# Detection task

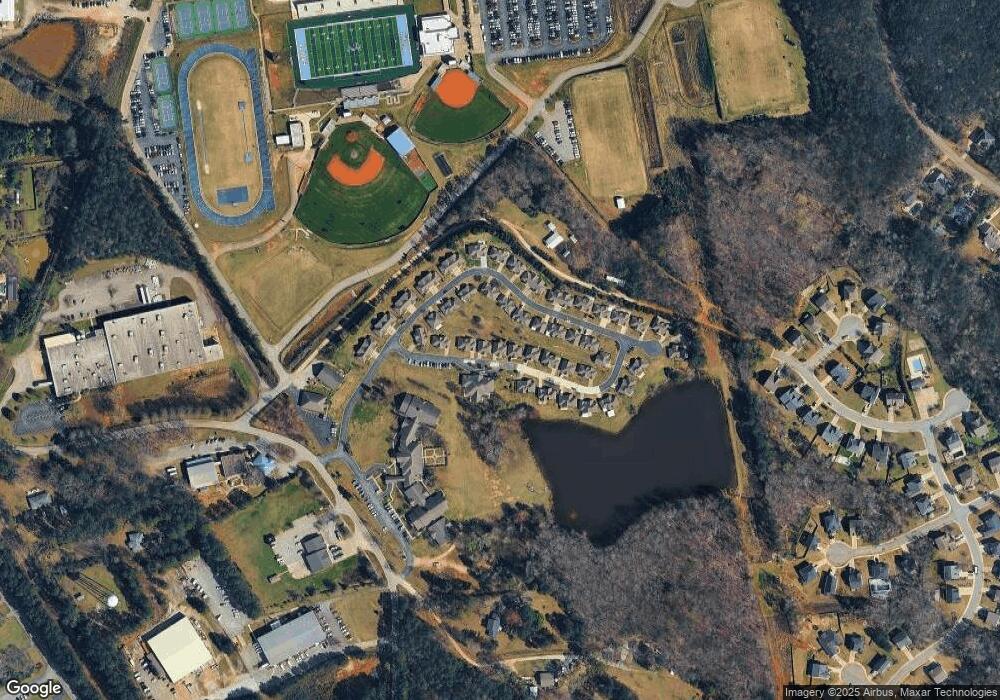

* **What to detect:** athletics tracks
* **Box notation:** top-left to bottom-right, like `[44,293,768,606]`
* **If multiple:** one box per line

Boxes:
[179,44,276,226]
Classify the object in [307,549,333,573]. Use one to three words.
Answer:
building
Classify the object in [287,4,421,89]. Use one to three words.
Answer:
sports field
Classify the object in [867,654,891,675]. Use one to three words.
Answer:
house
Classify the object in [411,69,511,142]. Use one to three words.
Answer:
baseball field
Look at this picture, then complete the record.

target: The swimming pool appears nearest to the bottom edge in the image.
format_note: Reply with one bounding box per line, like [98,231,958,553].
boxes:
[869,578,891,596]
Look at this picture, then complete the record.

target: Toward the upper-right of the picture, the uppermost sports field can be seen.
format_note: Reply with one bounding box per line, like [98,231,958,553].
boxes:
[708,0,806,120]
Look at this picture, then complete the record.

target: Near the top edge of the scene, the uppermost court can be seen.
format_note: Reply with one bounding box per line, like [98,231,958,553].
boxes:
[173,0,251,40]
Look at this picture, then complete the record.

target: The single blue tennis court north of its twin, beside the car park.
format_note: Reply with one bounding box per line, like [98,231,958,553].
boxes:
[153,57,172,96]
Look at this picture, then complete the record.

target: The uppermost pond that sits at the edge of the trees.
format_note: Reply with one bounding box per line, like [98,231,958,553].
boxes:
[8,21,79,78]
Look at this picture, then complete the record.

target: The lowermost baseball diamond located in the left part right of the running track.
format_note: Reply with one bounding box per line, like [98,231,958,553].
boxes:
[294,124,431,246]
